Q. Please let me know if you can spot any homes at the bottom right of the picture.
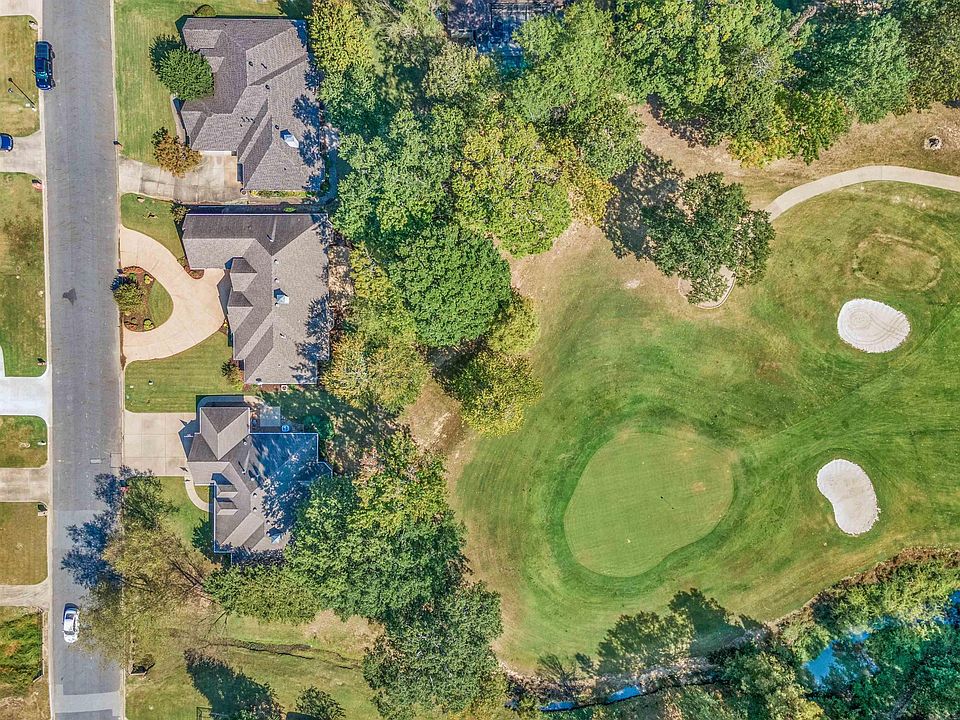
No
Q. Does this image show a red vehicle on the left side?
No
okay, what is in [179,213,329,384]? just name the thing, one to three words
house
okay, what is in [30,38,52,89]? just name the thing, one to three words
truck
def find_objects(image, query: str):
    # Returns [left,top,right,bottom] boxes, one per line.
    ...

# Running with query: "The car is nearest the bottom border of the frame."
[58,607,79,645]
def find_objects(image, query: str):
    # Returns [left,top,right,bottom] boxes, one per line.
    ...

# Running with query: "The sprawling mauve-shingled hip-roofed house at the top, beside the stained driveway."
[182,17,322,191]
